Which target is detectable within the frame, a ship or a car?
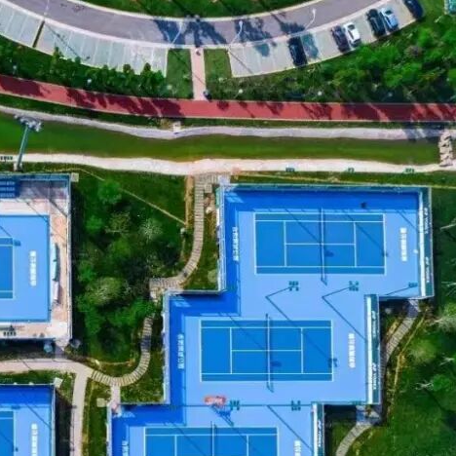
car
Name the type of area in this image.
sports ground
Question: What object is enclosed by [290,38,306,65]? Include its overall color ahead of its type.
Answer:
black car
